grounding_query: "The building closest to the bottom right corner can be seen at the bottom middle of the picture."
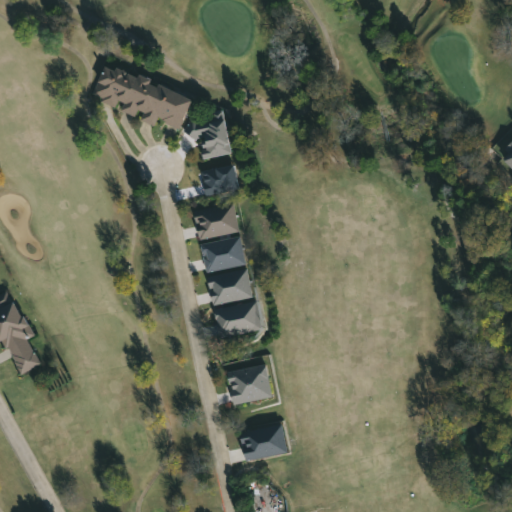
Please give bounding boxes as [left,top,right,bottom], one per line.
[240,421,289,461]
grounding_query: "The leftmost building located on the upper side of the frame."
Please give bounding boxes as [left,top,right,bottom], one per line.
[94,64,192,129]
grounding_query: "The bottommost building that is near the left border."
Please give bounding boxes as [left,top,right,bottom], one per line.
[0,288,42,374]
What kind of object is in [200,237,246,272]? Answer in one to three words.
house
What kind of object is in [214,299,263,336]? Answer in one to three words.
house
